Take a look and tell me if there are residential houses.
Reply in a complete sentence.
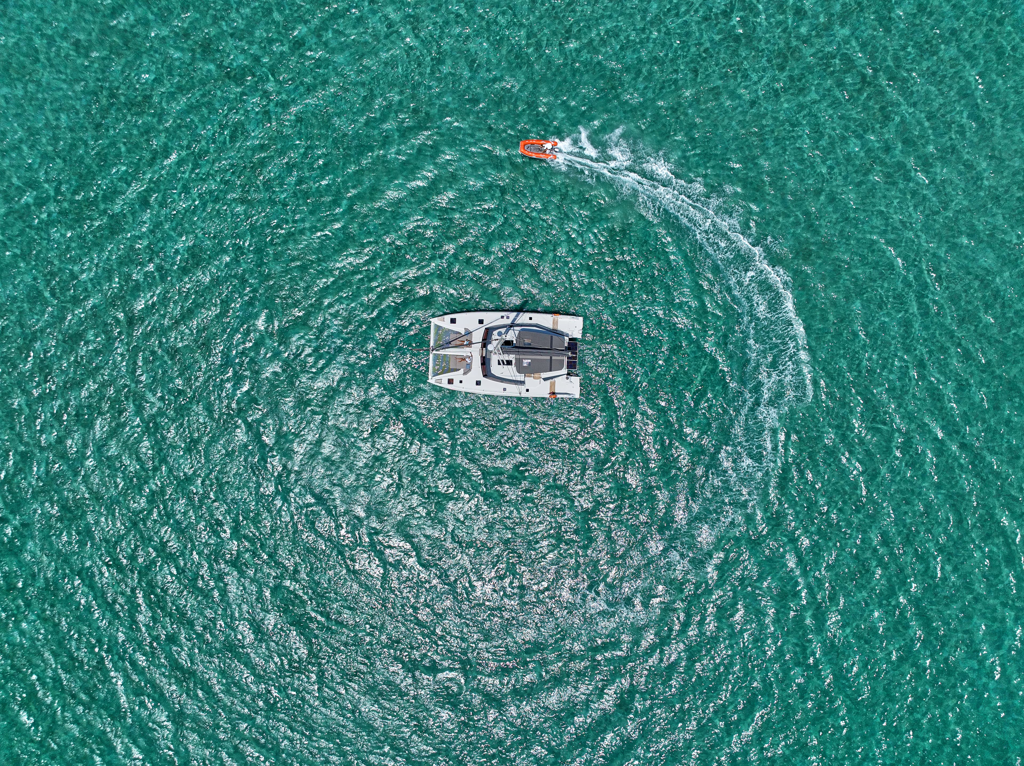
No, there is no residential house in the image.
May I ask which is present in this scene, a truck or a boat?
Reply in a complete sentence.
It is a boat that can be seen here.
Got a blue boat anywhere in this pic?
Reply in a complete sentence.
No, I can see no blue boat in this picture.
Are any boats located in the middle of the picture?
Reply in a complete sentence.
Yes, a boat is visible in the middle of the picture.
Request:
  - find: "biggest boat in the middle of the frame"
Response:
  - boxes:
[410,311,583,398]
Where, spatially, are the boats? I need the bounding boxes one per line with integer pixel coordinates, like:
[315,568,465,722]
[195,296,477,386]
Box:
[410,311,583,398]
[520,139,560,159]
